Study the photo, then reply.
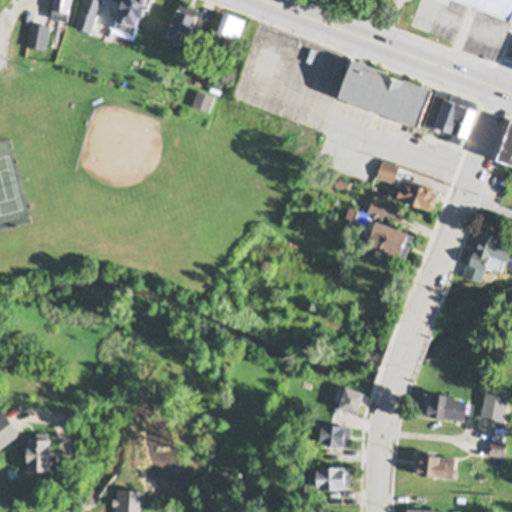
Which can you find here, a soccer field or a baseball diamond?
baseball diamond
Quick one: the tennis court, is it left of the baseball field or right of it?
to the left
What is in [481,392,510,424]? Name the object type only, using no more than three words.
building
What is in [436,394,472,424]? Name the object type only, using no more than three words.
house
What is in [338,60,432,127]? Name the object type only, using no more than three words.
building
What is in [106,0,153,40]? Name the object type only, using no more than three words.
house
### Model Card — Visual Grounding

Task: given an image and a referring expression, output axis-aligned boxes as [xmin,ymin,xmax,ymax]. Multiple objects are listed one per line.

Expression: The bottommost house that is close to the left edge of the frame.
[25,435,52,474]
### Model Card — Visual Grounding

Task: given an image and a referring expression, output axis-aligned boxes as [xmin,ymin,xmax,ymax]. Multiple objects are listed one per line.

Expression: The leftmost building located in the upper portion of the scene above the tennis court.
[26,24,50,52]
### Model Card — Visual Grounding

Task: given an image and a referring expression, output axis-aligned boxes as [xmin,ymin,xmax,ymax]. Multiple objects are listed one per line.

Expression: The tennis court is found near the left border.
[0,140,34,230]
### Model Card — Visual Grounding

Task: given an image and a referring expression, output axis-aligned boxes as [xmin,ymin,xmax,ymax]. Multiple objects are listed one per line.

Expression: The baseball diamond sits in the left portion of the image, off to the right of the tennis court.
[80,105,162,187]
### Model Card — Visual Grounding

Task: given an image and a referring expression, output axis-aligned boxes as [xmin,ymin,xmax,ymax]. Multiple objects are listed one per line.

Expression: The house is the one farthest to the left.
[0,410,30,452]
